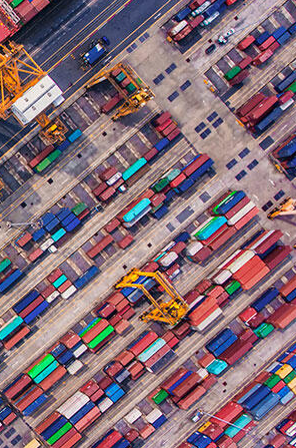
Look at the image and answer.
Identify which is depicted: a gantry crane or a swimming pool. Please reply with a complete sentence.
The image shows a gantry crane.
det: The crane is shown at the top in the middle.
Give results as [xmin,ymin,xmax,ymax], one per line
[85,58,156,120]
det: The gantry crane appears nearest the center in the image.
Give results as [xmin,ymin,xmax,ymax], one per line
[114,269,191,327]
